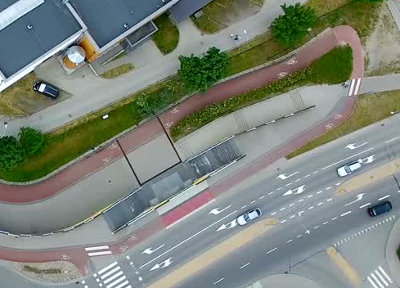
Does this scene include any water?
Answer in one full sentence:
No, the picture contains no water.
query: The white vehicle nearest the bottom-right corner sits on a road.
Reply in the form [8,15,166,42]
[336,159,363,176]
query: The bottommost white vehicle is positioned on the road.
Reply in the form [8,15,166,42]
[236,207,263,225]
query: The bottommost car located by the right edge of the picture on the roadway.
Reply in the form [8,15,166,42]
[365,201,394,217]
